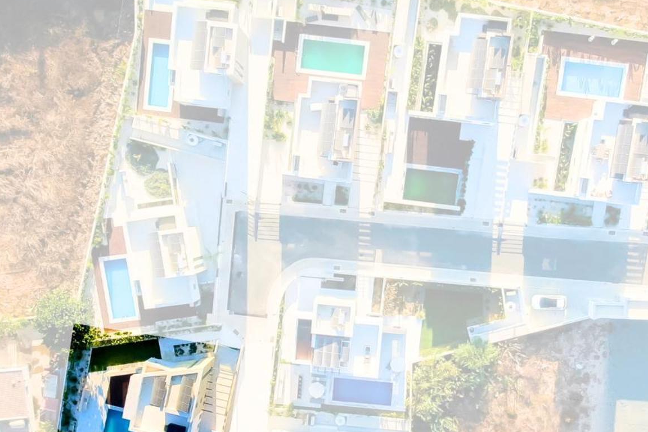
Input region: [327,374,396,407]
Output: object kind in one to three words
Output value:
swimming pool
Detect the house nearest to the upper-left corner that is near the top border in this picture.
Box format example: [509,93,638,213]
[169,2,249,115]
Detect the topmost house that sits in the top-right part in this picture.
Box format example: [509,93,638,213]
[437,13,512,128]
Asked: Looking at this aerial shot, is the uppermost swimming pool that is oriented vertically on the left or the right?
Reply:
left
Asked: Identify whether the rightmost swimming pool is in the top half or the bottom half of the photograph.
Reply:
top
